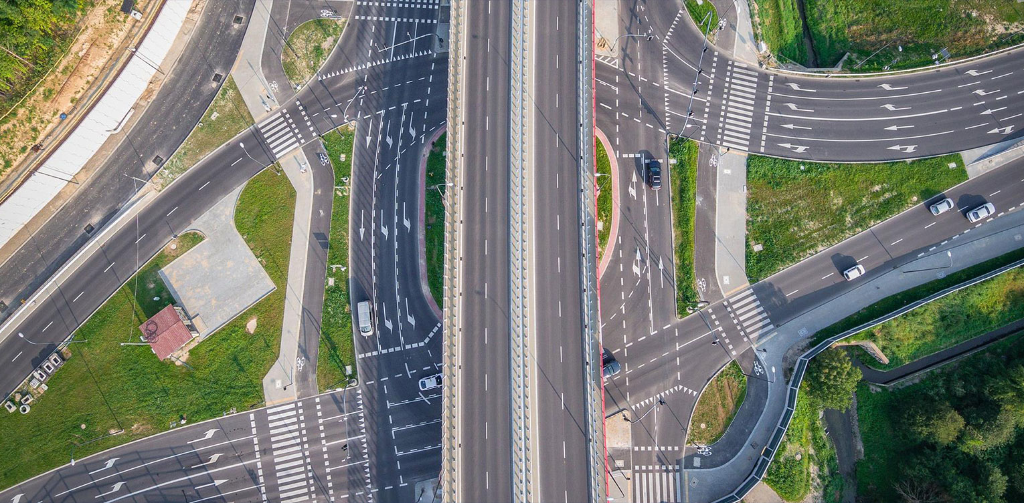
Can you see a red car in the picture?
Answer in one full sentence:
No, I can see no red car in this picture.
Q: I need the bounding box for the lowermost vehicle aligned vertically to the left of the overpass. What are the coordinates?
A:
[356,301,375,336]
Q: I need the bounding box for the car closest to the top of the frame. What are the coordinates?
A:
[648,161,663,190]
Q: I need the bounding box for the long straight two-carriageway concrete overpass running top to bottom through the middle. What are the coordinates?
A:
[441,0,609,503]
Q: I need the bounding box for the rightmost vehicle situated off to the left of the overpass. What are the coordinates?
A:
[418,373,443,390]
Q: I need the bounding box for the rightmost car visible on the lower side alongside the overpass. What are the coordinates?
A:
[603,360,621,378]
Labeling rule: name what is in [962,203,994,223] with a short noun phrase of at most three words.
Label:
car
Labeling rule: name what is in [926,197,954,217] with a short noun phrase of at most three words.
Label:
car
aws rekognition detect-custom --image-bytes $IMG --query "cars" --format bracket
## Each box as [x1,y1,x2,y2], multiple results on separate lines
[926,197,954,217]
[648,161,663,190]
[962,203,994,223]
[603,360,621,378]
[418,373,443,390]
[840,264,865,282]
